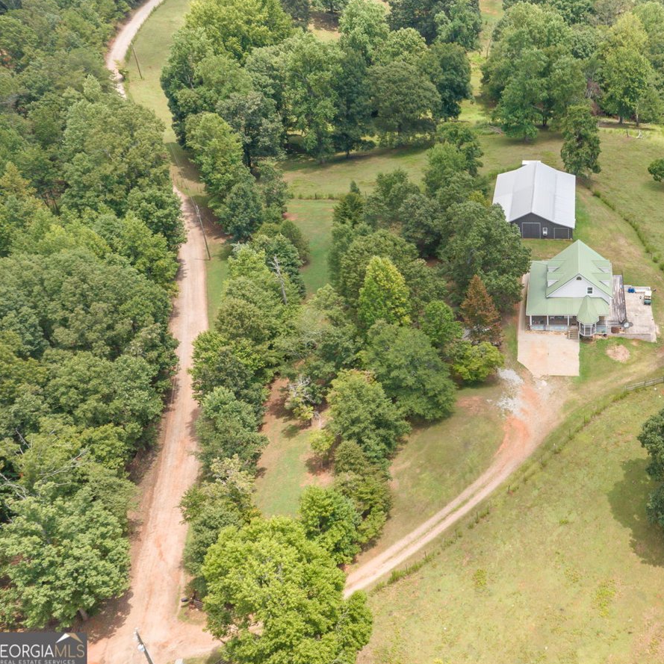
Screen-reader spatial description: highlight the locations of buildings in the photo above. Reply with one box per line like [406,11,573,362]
[524,238,611,334]
[490,159,575,239]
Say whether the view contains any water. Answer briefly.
No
